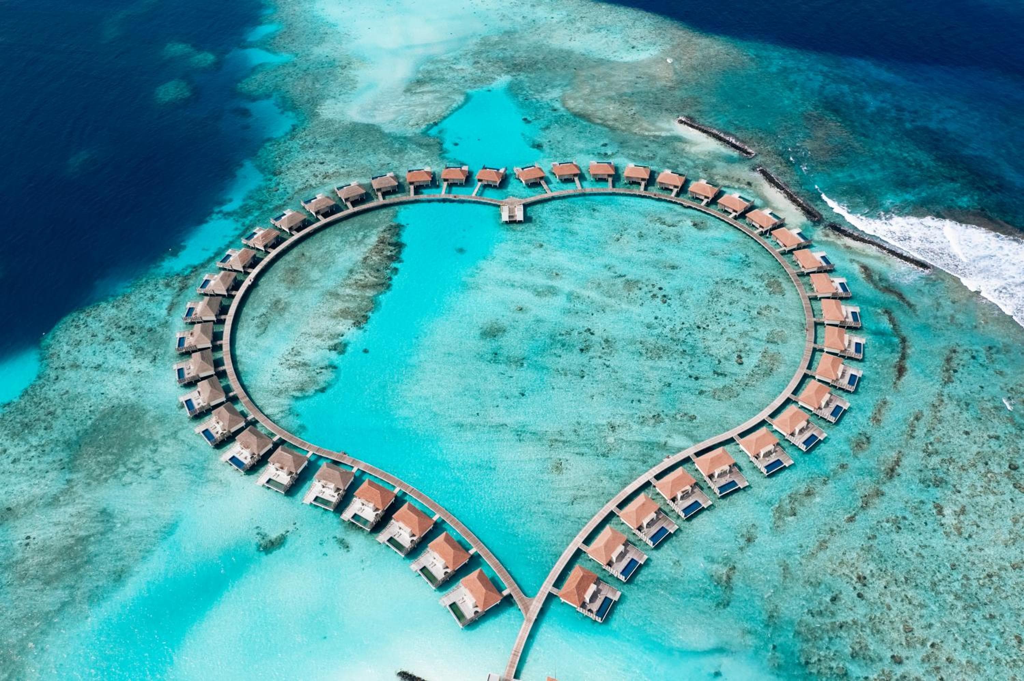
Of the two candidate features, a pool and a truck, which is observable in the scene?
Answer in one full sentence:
Visible in the photo is a pool.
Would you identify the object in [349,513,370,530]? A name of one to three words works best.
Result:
swimming pool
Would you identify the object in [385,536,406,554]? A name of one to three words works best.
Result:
swimming pool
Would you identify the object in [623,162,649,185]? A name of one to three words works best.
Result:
house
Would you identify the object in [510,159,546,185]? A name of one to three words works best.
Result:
house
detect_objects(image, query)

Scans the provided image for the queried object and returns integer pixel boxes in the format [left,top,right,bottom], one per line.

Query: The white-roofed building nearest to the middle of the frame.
[501,205,523,229]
